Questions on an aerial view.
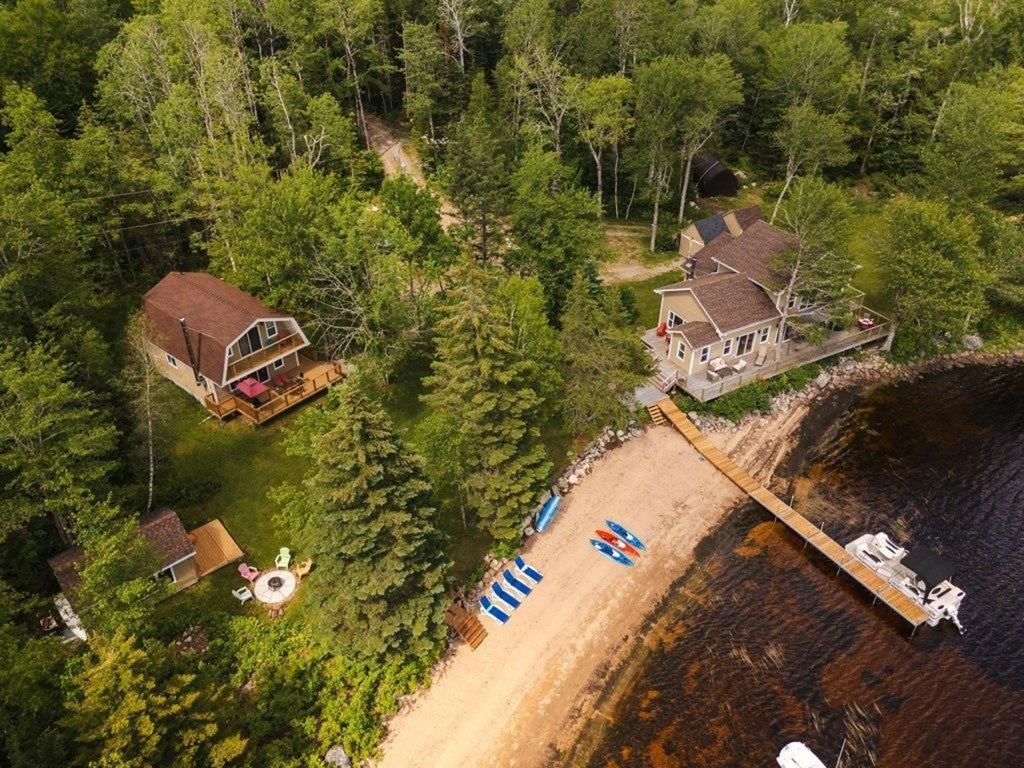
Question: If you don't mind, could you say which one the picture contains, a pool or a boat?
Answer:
boat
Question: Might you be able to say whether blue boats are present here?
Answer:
Yes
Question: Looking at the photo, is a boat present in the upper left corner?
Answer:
No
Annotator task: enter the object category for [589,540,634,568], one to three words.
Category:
boat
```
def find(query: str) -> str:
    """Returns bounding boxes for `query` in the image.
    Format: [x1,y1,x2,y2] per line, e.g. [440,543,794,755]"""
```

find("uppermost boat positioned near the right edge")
[840,532,974,638]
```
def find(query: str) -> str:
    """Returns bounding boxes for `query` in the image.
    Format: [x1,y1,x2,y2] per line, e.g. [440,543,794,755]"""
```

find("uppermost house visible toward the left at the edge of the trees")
[136,273,346,430]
